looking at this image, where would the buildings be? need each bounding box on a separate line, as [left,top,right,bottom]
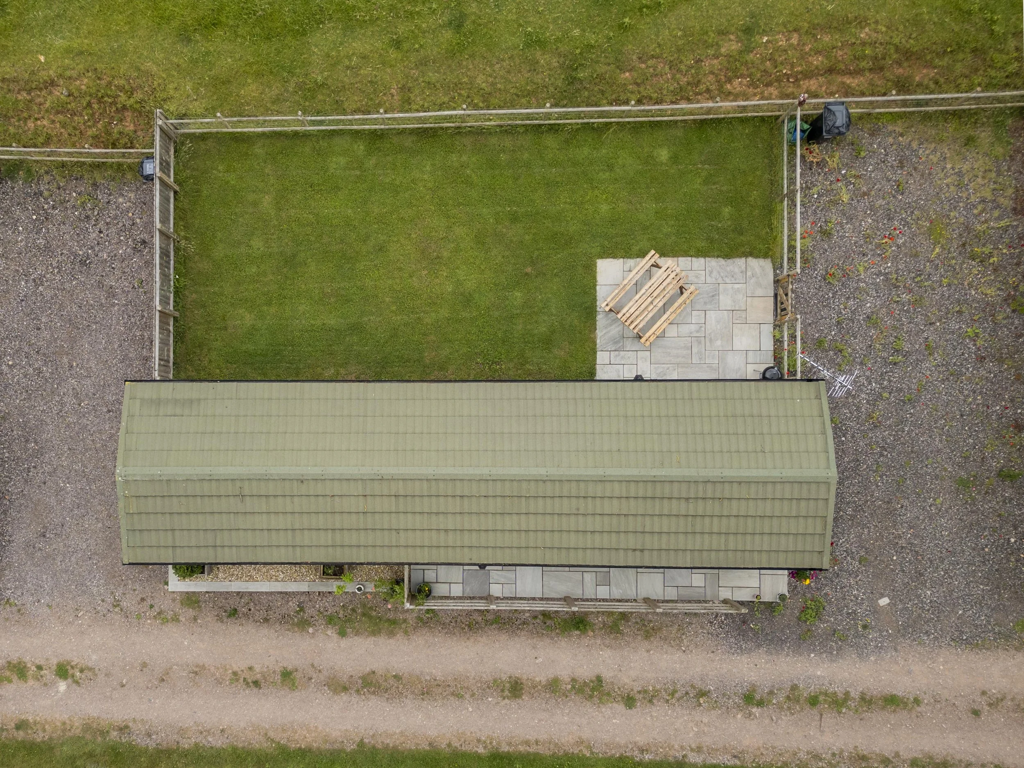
[113,379,839,568]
